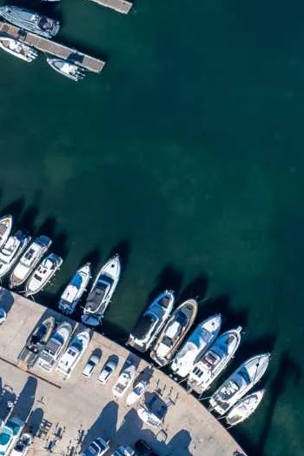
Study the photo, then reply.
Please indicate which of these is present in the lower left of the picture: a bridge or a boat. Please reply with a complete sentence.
Looking in the lower left of the picture, you will find a boat.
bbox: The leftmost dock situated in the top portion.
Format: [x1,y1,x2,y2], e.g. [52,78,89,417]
[0,22,104,73]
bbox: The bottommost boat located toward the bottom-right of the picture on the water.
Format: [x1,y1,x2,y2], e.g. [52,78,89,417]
[222,388,265,427]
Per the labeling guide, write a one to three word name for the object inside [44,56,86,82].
boat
